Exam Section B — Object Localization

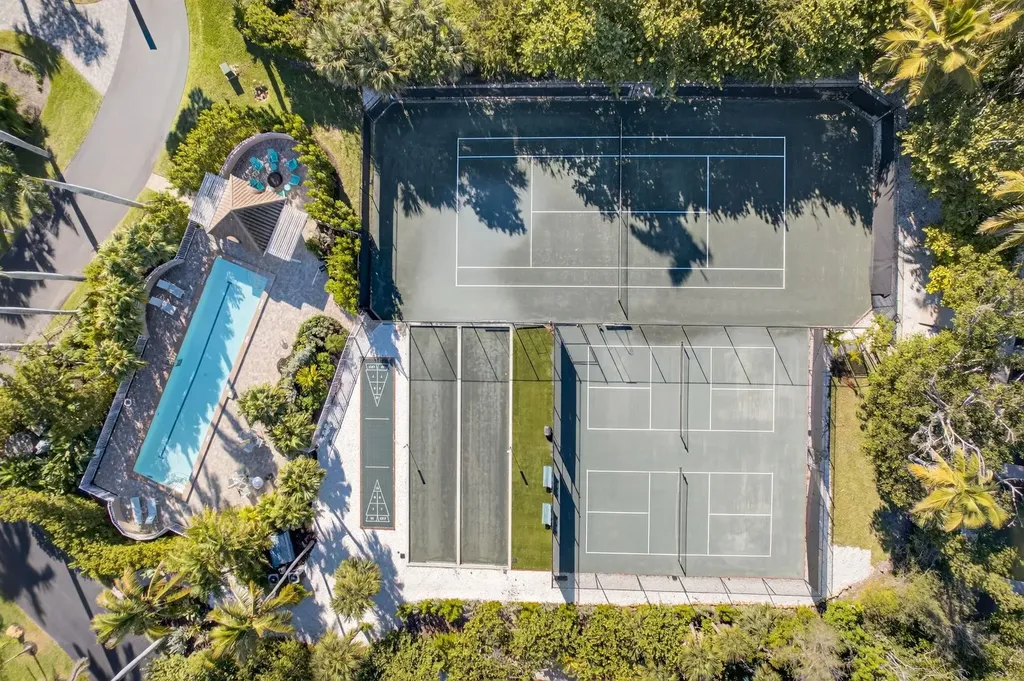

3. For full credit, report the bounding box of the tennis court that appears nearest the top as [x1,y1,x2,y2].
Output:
[370,102,875,325]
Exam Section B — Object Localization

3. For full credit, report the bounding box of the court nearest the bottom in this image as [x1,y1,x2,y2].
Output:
[554,450,807,580]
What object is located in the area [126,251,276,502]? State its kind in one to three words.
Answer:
swimming pool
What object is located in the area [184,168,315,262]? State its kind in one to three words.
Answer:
building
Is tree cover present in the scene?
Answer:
Yes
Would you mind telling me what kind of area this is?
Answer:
sports ground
